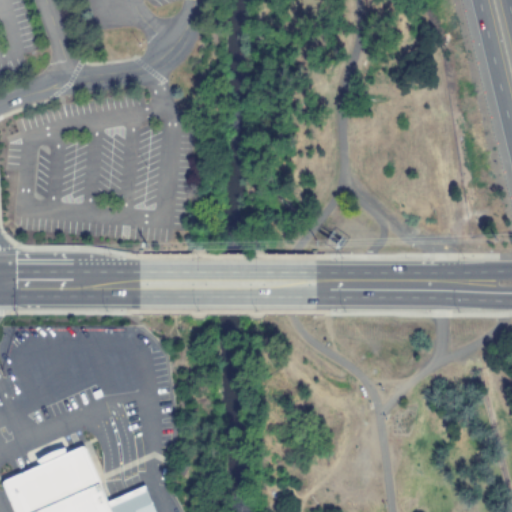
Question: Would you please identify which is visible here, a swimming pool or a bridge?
bridge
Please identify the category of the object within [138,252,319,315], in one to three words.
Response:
bridge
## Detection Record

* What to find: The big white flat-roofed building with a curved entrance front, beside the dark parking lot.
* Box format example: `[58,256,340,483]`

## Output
[3,446,115,512]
